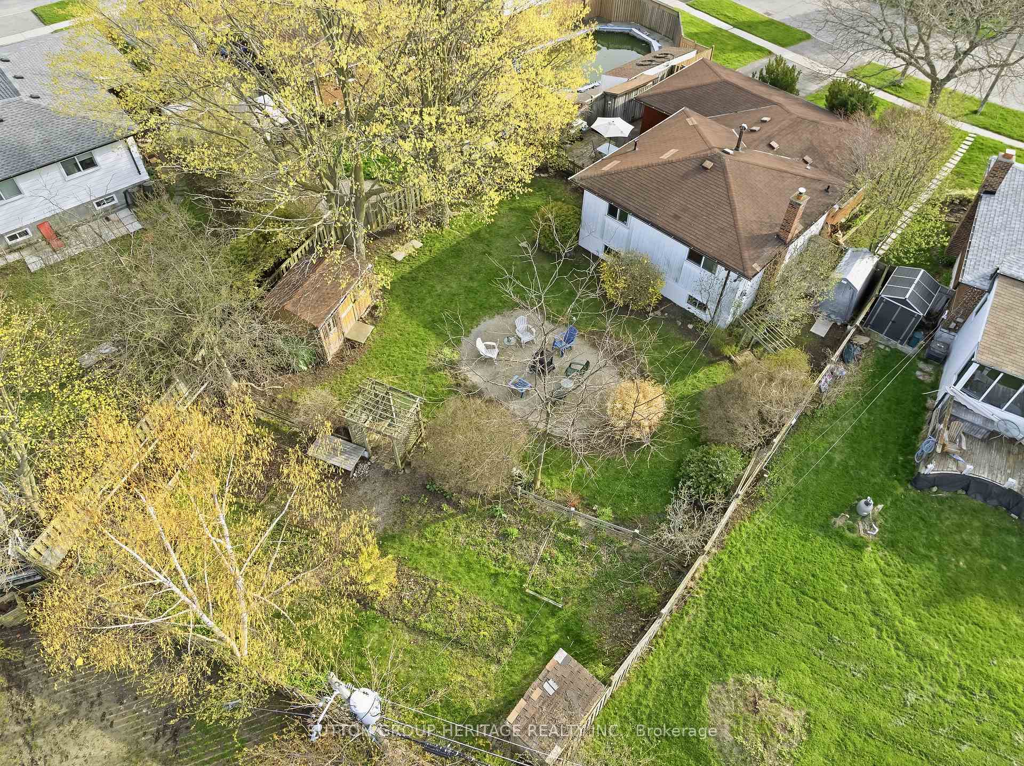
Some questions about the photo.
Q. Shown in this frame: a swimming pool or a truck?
swimming pool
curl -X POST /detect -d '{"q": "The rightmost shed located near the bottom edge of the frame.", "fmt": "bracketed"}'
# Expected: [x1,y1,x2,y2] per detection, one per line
[492,644,608,766]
